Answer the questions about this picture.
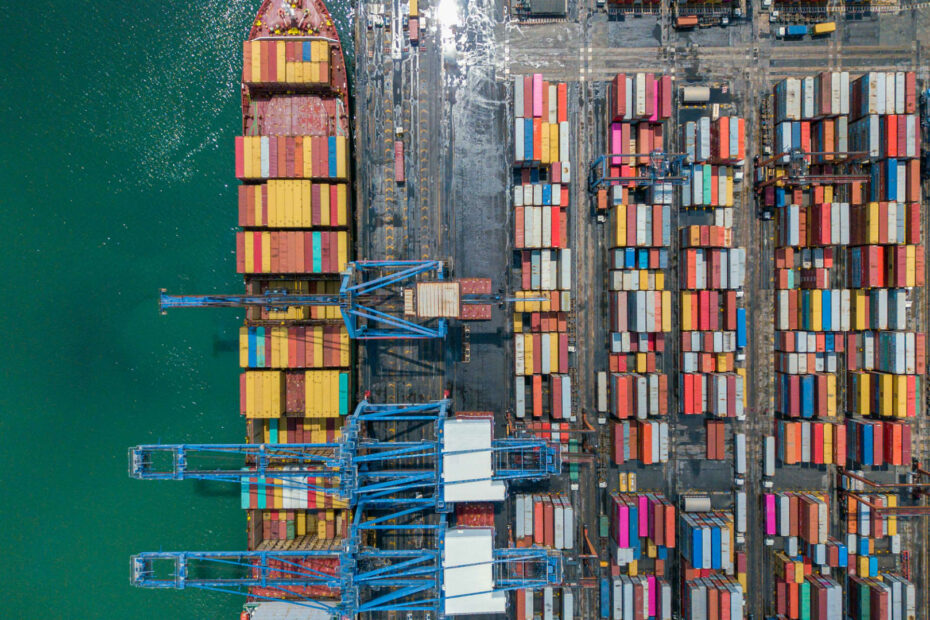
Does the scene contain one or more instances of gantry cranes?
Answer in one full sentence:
Yes, there's a gantry crane down there.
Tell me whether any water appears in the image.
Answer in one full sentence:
Yes, there's water in this view.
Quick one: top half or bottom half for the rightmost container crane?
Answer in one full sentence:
Seen from above, the rightmost container crane lies in the bottom half of the view.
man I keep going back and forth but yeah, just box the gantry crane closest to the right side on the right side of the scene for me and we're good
[837,460,930,514]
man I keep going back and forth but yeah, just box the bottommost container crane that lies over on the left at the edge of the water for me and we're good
[125,481,561,616]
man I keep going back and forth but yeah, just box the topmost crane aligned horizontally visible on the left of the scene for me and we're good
[161,255,548,341]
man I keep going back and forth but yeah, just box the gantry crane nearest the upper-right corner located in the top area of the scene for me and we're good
[756,148,872,192]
